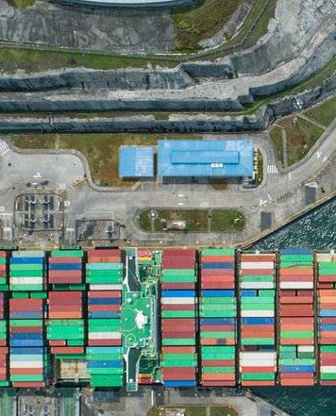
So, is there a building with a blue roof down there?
Yes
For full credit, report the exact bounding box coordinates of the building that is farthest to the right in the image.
[158,139,253,177]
